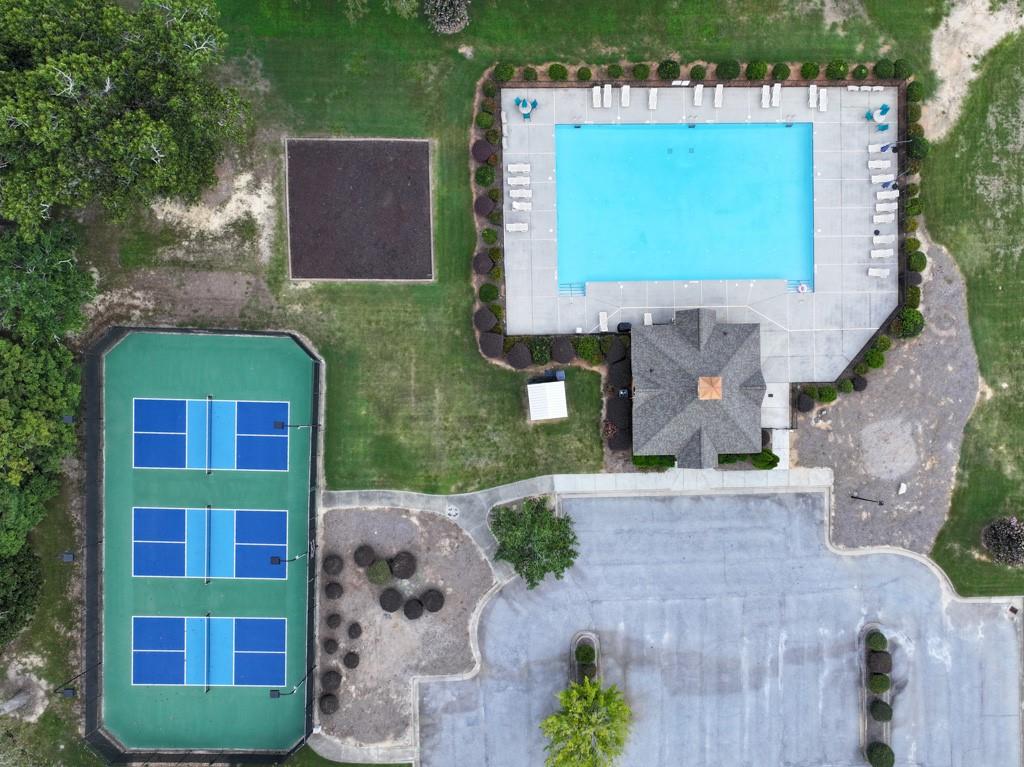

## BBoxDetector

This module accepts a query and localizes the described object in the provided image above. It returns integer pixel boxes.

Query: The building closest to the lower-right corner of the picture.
[631,307,768,469]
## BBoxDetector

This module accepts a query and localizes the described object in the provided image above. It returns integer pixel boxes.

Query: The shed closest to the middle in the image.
[527,380,568,420]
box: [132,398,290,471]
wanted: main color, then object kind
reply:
blue sports court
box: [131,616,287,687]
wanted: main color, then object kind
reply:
blue sports court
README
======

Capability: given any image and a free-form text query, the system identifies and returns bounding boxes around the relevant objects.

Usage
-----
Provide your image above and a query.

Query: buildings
[527,380,568,420]
[631,307,768,469]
